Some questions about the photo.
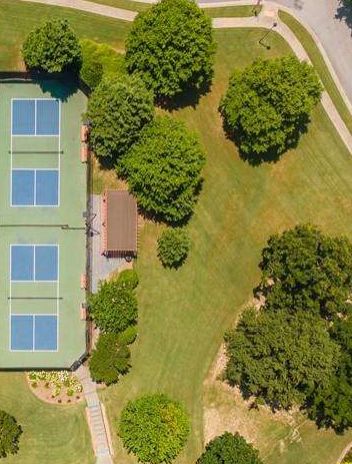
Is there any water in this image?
No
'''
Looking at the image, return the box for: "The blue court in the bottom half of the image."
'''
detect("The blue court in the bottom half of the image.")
[5,244,62,350]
